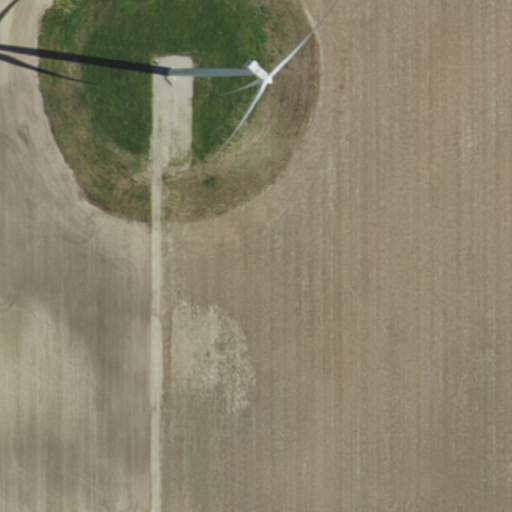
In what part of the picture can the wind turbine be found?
top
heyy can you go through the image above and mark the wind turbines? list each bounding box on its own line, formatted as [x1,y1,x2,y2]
[167,0,339,158]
